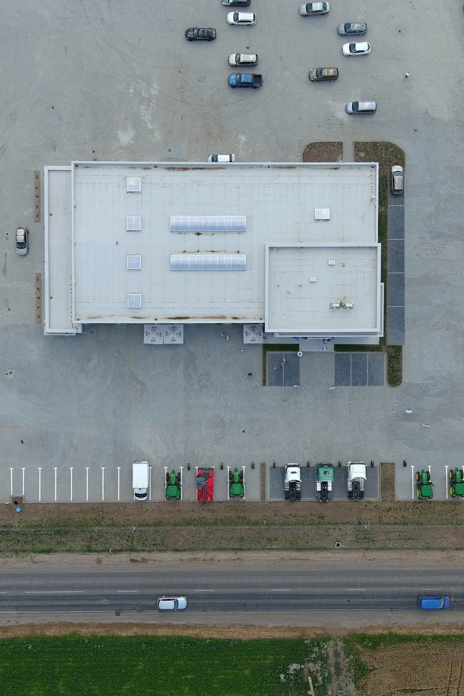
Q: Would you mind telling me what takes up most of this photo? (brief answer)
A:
paved ground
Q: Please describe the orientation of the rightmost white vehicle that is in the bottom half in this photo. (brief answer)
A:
from top to bottom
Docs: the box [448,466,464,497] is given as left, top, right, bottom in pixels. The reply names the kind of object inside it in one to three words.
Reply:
work vehicle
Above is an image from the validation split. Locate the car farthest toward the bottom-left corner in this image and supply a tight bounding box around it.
[157,596,187,612]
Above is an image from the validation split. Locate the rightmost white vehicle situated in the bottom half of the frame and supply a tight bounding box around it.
[348,459,368,499]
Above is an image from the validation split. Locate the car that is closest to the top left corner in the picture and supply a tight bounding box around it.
[185,26,217,41]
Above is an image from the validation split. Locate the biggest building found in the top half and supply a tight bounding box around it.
[42,153,384,337]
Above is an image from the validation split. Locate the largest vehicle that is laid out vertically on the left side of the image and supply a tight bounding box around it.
[131,458,149,501]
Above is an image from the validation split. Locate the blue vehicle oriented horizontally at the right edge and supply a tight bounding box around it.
[417,596,450,610]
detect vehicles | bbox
[391,166,405,195]
[228,72,262,88]
[417,596,450,610]
[228,466,244,497]
[283,462,303,501]
[310,65,338,81]
[299,1,330,16]
[346,99,376,114]
[348,459,368,499]
[342,41,371,56]
[207,152,236,162]
[448,466,464,497]
[222,0,252,7]
[14,226,29,257]
[185,26,217,41]
[157,596,187,612]
[414,468,434,500]
[131,458,149,501]
[227,10,256,25]
[337,21,368,36]
[165,468,182,500]
[229,52,258,67]
[315,462,335,502]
